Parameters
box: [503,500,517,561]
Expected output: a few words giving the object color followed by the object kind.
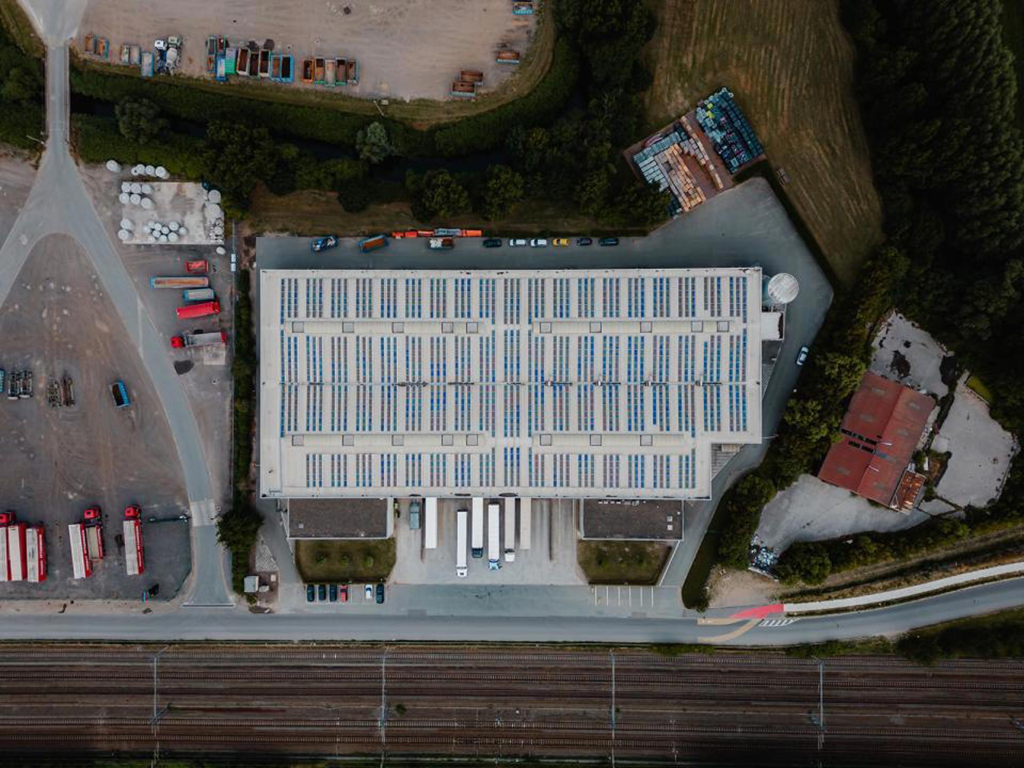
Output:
white vehicle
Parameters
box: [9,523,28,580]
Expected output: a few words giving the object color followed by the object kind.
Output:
white trailer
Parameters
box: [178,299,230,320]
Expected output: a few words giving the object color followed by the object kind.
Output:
red truck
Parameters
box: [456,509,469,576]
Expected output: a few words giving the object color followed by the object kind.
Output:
white vehicle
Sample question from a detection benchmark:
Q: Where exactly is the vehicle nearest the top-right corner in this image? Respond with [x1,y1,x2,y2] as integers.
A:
[795,346,808,365]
